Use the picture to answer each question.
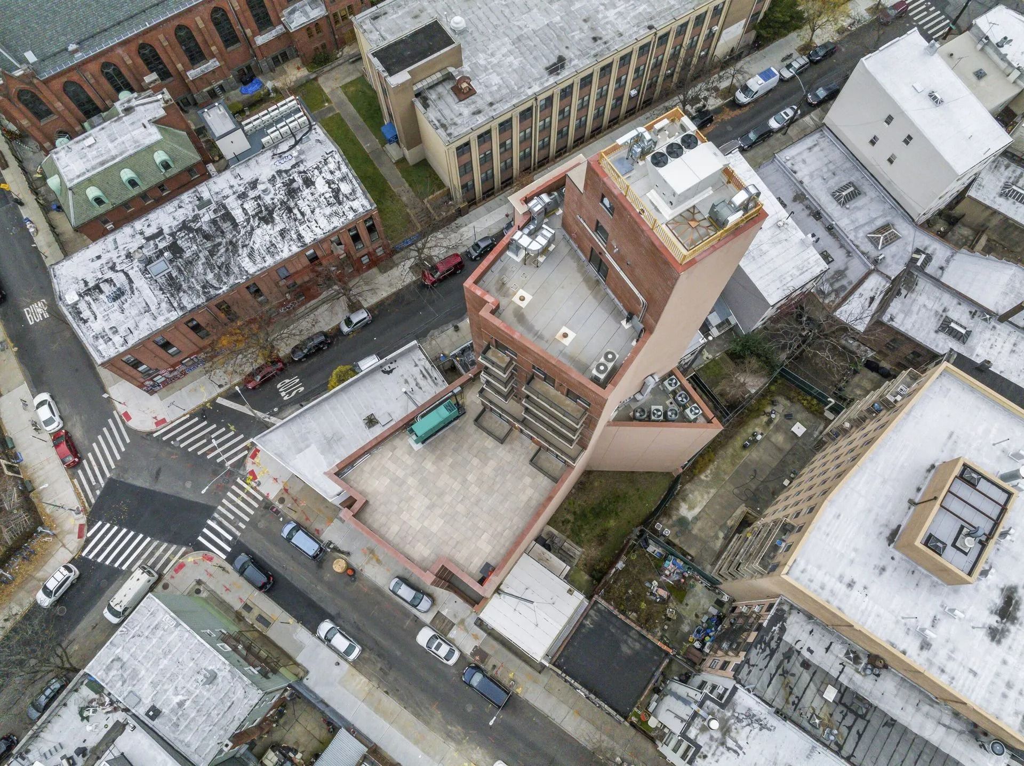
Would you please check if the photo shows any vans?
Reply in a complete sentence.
Yes, the photo shows a van.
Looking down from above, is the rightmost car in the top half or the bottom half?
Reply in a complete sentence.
The rightmost car sits in the top half of the picture.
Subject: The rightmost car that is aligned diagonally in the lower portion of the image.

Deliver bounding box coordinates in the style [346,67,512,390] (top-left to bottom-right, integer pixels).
[456,659,516,717]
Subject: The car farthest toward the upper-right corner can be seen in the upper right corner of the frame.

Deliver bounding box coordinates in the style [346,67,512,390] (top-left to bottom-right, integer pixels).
[873,0,915,29]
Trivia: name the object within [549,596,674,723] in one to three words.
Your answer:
building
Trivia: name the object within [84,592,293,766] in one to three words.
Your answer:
building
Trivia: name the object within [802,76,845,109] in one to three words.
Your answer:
vehicle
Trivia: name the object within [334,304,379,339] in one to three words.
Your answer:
car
